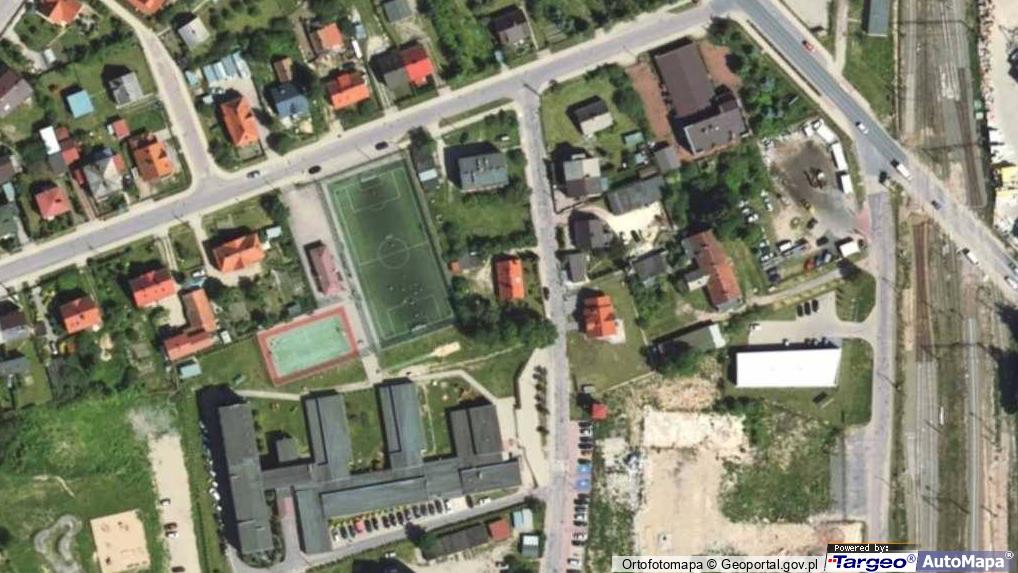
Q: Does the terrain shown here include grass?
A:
Yes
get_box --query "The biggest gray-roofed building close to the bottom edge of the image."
[219,381,522,553]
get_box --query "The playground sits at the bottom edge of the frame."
[91,509,151,573]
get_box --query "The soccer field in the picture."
[328,158,453,348]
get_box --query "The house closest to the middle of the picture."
[495,258,525,301]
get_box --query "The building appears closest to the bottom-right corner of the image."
[737,349,839,388]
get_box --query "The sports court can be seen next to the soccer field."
[257,307,359,385]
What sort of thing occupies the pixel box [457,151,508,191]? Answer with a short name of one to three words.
building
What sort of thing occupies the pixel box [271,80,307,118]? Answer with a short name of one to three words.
house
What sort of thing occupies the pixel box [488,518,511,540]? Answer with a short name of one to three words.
shed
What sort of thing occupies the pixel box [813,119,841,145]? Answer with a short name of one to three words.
truck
